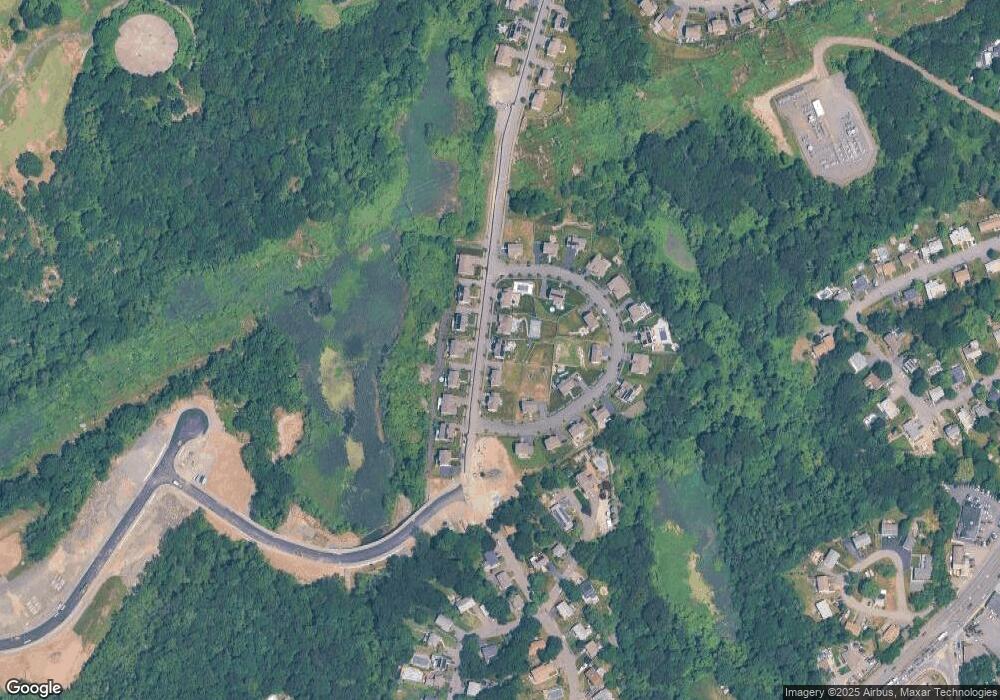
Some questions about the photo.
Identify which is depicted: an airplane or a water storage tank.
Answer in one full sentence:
Of the two, only a water storage tank appears.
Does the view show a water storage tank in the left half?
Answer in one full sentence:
Yes, I can see a water storage tank in the left half.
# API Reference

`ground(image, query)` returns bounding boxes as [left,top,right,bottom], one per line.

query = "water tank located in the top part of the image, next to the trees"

[116,15,178,75]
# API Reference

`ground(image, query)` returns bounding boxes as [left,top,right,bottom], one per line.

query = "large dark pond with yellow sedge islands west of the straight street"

[269,229,409,529]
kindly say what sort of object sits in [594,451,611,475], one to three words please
swimming pool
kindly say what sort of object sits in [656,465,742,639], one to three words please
pond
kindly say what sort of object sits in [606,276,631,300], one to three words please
house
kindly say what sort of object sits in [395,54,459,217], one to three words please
pond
